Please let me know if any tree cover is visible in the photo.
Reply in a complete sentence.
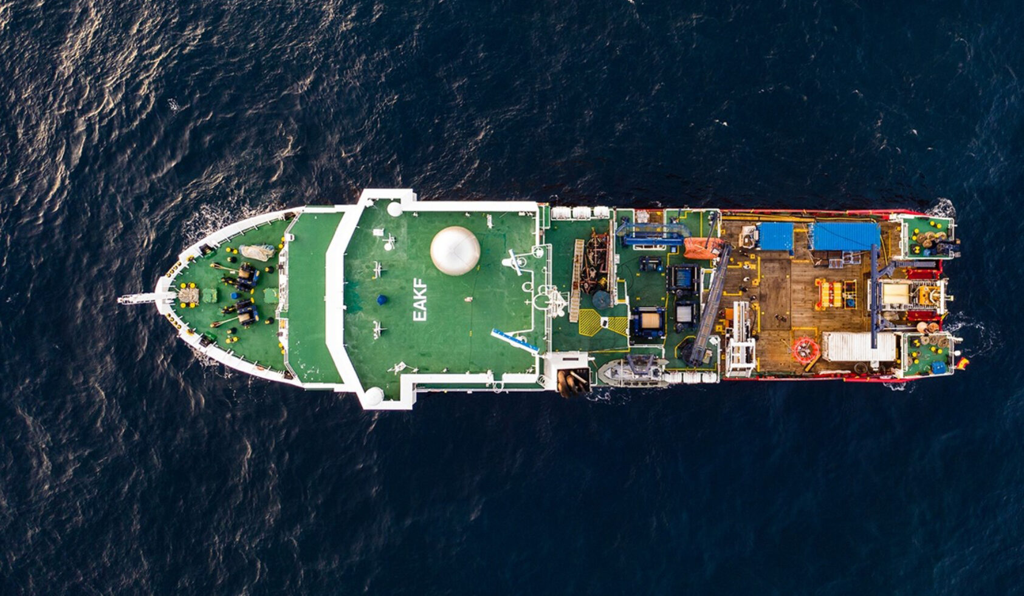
No, tree cover can't be seen anywhere here.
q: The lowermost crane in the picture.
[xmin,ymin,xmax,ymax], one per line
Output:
[674,240,736,371]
